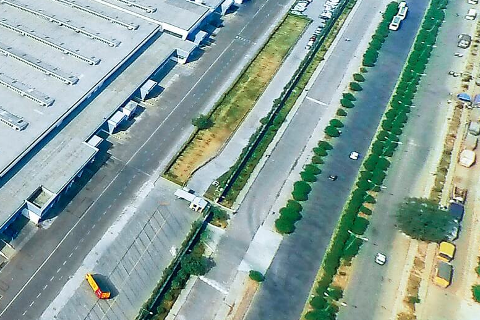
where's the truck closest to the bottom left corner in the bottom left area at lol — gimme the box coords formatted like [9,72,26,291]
[87,269,112,297]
